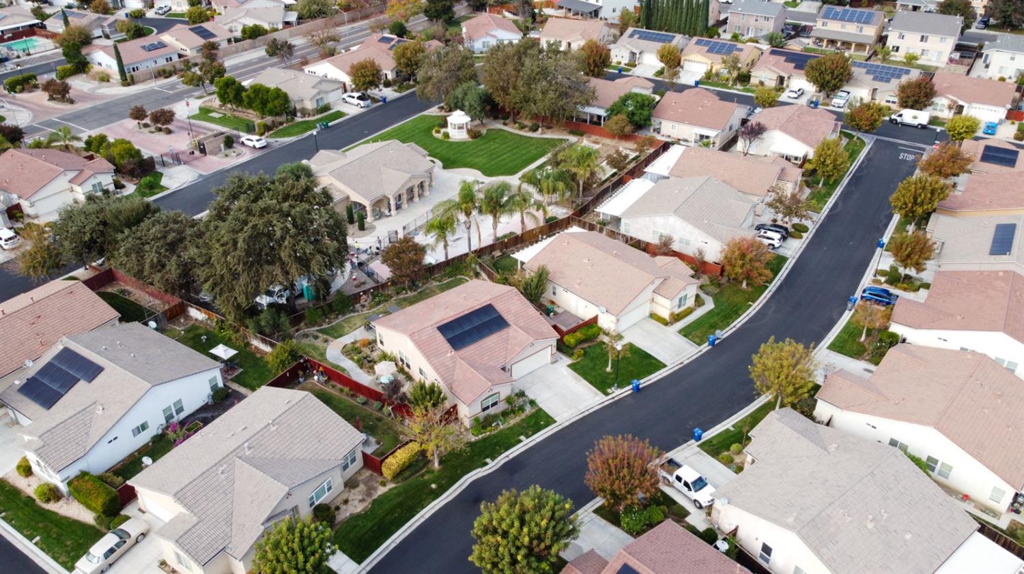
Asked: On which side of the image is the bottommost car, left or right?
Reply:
left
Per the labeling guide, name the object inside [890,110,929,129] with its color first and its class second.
white vehicle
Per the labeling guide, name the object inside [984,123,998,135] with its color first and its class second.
blue vehicle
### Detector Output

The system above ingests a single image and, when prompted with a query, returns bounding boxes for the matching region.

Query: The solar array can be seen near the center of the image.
[437,304,509,350]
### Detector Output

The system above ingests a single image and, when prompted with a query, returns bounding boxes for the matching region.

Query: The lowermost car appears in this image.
[68,517,149,574]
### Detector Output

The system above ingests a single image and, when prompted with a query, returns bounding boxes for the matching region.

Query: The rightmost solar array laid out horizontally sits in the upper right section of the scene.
[979,145,1021,165]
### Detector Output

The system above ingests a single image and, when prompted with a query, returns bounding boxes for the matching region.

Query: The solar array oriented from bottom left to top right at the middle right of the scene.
[983,223,1022,255]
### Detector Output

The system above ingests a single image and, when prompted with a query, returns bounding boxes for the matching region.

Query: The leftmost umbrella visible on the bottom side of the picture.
[206,344,238,361]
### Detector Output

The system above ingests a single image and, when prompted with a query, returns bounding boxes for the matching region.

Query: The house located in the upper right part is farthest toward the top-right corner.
[971,32,1024,82]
